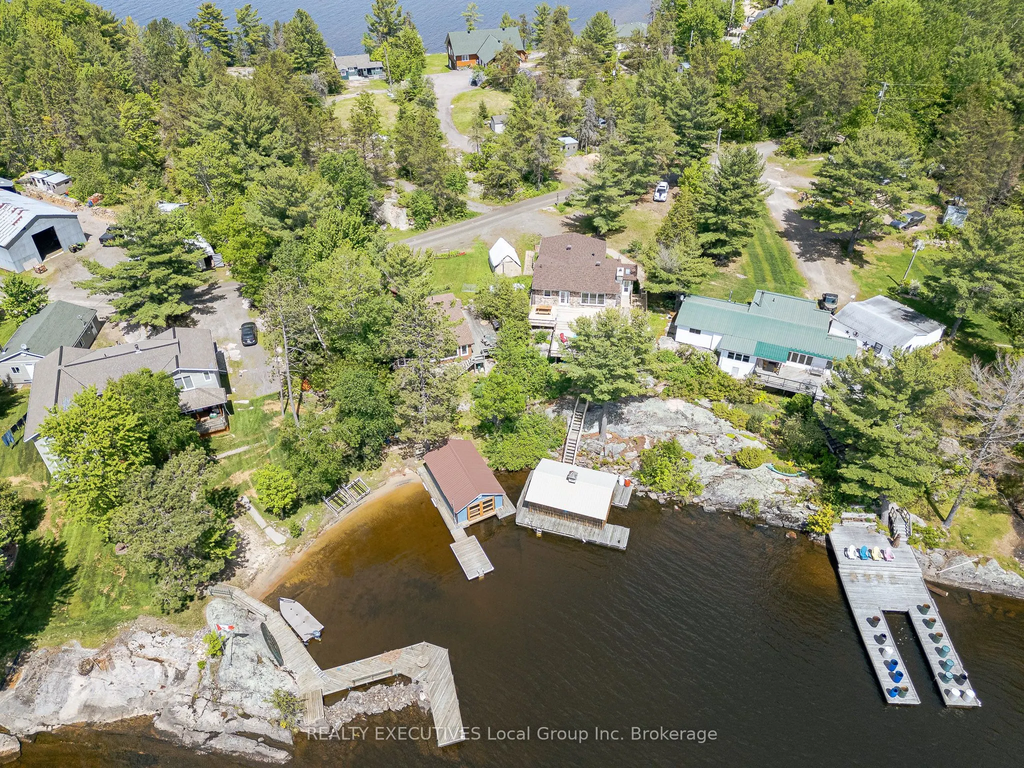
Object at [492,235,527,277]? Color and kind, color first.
white tent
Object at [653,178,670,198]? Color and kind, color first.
white car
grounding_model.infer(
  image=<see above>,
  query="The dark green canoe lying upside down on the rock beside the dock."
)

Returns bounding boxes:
[261,620,283,665]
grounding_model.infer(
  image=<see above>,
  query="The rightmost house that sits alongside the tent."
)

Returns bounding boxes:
[527,228,639,364]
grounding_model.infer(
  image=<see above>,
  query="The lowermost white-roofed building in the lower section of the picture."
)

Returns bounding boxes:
[525,460,620,530]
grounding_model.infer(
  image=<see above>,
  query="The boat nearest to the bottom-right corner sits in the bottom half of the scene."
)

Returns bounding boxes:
[766,460,805,476]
